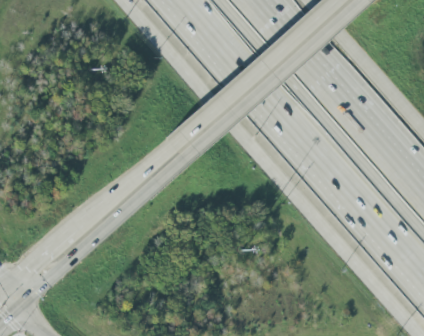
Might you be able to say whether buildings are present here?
No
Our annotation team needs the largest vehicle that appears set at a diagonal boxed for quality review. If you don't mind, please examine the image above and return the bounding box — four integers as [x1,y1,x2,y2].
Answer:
[341,109,364,135]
